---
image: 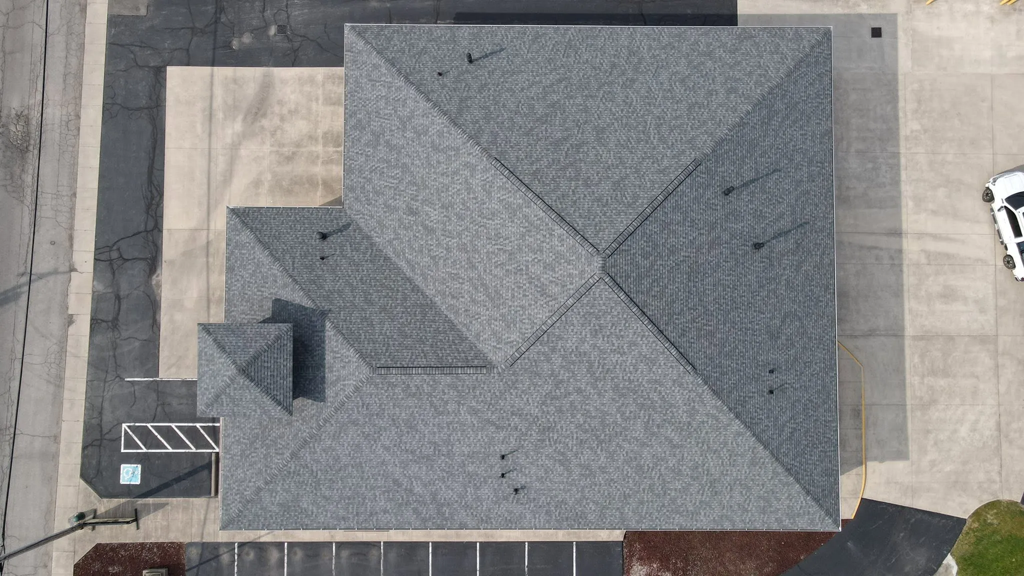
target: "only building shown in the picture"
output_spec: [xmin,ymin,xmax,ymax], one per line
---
[195,25,842,531]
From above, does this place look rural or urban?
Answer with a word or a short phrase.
urban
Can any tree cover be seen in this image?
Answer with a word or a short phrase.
No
